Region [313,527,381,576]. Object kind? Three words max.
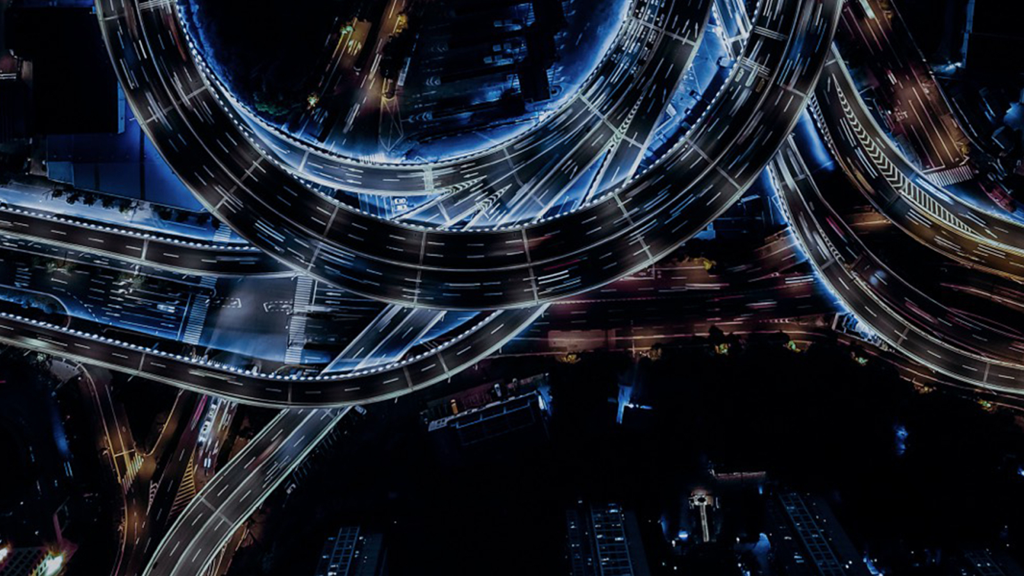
building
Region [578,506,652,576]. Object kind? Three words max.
building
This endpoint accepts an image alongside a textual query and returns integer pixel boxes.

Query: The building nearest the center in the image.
[458,399,543,449]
